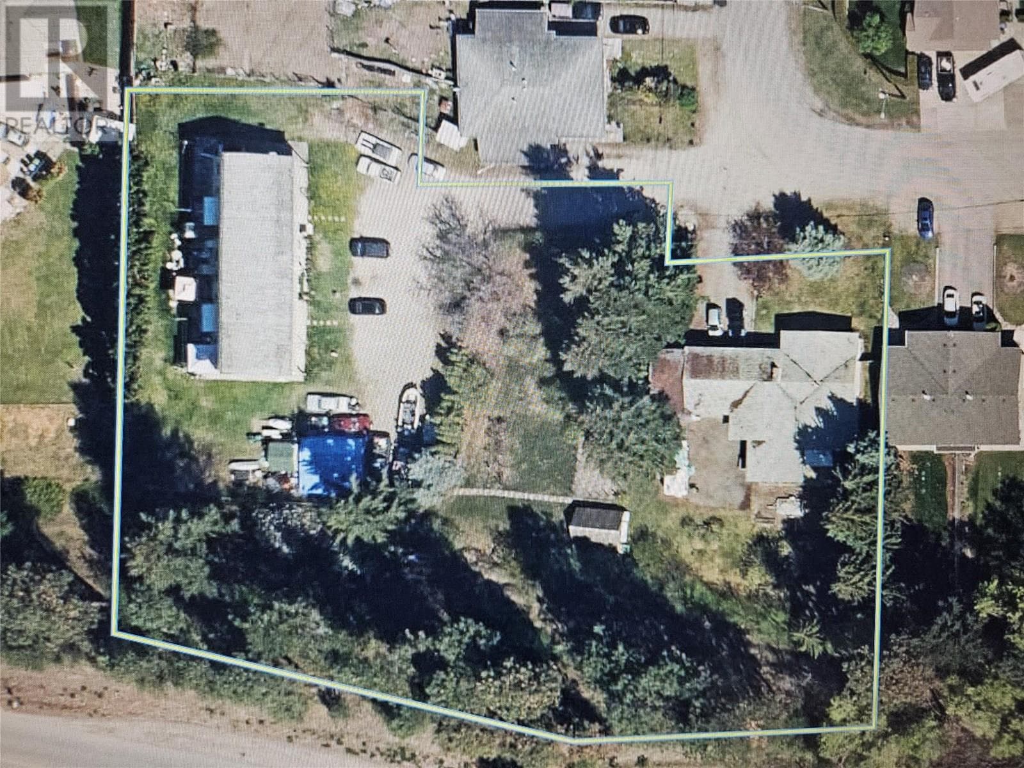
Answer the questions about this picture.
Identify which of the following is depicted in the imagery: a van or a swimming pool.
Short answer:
van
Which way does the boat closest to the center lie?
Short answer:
up and down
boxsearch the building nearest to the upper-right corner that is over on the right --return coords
[905,0,999,52]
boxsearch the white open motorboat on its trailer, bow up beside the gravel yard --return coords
[398,379,421,436]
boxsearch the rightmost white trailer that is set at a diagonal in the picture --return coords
[959,43,1024,95]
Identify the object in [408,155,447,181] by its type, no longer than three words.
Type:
car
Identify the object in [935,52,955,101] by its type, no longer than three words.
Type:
vehicle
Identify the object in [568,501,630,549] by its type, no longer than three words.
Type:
shed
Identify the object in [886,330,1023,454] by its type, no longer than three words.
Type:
house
